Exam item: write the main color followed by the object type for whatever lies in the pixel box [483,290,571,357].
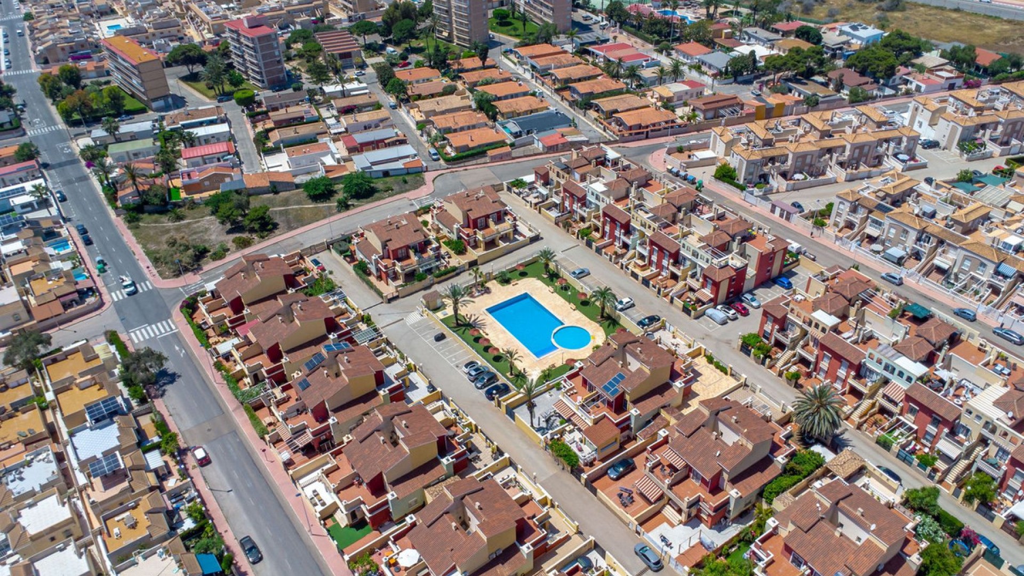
blue swimming pool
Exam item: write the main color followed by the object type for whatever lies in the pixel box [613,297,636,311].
white car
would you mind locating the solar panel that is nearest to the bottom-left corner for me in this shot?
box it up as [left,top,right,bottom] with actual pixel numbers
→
[90,453,121,477]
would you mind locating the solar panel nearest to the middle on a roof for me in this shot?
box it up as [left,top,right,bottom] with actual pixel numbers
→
[602,372,628,395]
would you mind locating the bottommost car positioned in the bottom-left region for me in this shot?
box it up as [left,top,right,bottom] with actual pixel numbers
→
[238,535,263,565]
